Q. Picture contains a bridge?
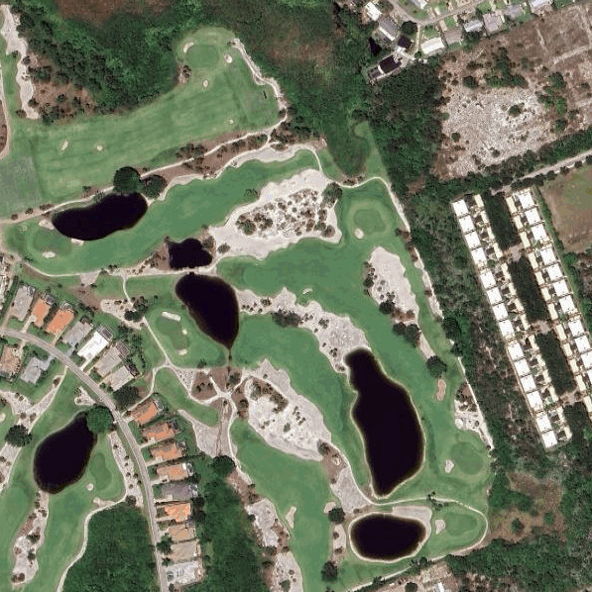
No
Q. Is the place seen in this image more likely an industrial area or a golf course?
golf course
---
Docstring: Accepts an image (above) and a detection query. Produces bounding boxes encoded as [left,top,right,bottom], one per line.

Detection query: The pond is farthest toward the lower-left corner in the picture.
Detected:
[33,412,97,493]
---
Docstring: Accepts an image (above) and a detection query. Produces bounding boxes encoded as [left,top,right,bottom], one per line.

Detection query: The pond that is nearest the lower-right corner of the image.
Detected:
[351,514,425,561]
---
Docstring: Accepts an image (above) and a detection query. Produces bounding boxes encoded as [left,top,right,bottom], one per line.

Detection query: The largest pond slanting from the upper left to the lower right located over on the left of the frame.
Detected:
[175,273,239,363]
